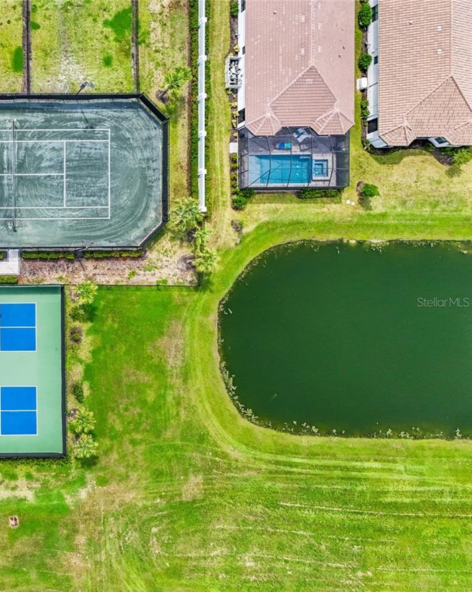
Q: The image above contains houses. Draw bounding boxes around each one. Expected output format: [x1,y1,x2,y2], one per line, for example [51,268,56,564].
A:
[238,0,355,136]
[367,0,472,147]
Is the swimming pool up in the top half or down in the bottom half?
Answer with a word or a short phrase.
top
